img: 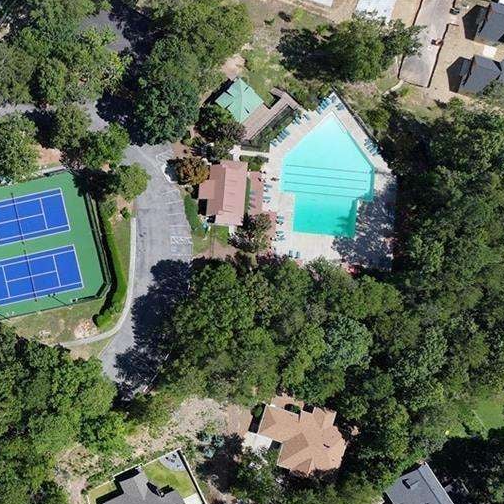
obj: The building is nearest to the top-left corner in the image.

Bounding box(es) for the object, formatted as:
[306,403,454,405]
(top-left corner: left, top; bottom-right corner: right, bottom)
[215,78,263,122]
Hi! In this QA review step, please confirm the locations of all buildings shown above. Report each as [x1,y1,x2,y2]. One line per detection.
[455,55,501,96]
[382,464,453,504]
[197,160,248,227]
[470,2,504,44]
[104,466,184,504]
[256,405,346,476]
[215,78,263,122]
